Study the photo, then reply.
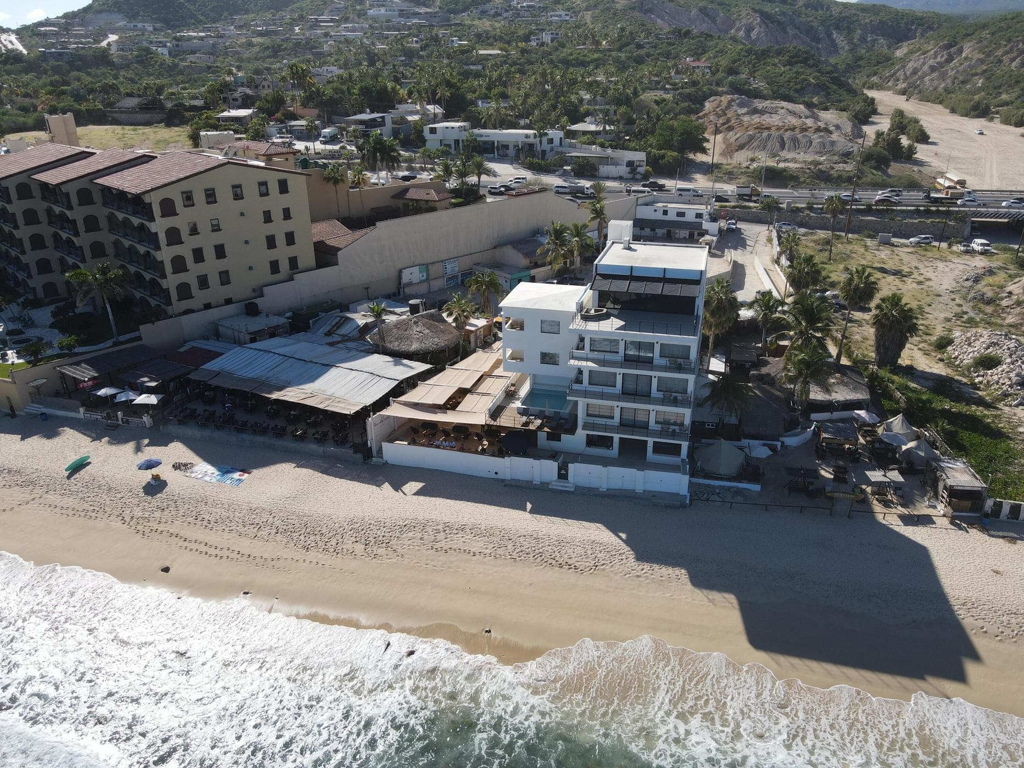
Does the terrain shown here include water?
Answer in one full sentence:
Yes, some water is visible.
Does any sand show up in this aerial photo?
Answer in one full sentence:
Yes, sand shows up in the scene.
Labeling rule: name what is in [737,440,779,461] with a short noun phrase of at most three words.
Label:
umbrella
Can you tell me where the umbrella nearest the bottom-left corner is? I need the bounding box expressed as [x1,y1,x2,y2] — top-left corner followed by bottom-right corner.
[132,458,162,472]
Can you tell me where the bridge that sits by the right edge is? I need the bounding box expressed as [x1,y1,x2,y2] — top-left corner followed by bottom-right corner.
[929,191,1024,242]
